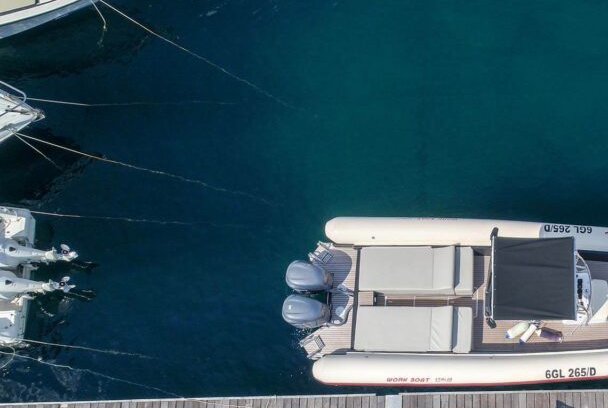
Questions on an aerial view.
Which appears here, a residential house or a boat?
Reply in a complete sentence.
Visible in the photo is a boat.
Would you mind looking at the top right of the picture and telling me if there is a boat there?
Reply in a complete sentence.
No, the scene shows no boat at the top right of the picture.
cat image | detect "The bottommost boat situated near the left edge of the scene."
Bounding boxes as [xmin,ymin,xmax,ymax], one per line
[0,210,73,347]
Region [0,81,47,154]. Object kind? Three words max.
boat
